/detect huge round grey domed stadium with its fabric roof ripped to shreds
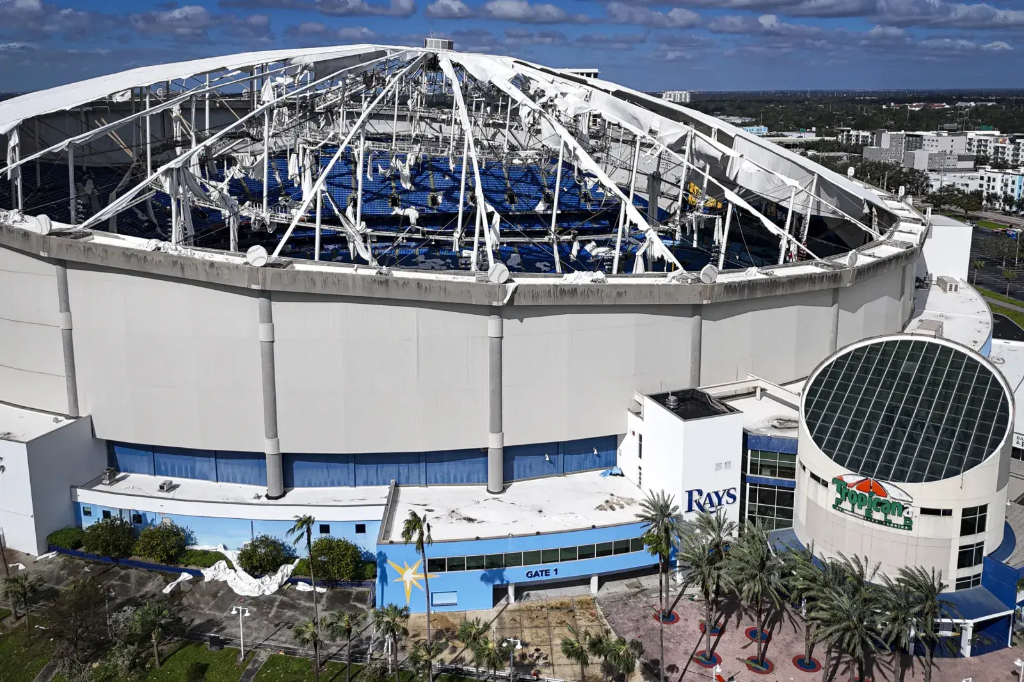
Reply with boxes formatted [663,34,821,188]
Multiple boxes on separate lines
[0,27,929,501]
